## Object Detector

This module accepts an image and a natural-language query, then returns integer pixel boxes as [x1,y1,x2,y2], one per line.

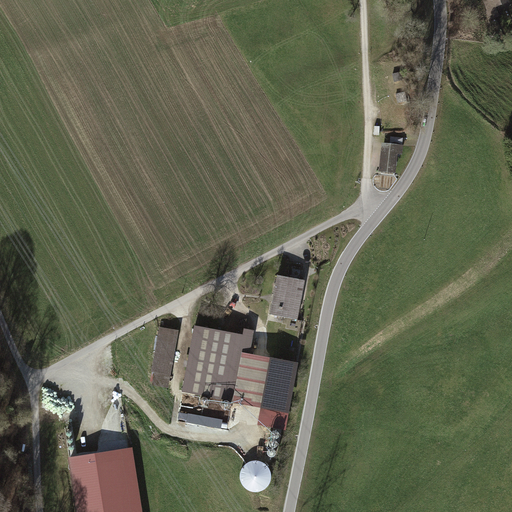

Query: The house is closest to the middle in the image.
[270,276,304,321]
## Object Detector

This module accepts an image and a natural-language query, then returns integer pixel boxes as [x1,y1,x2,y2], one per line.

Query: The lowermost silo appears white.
[240,460,271,492]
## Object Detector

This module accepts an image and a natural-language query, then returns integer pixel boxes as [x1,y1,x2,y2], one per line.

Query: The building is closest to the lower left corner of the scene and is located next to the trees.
[70,448,142,512]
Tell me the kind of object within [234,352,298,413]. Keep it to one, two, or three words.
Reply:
barn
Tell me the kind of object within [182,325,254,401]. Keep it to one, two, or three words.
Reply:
barn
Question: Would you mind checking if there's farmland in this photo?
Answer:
Yes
